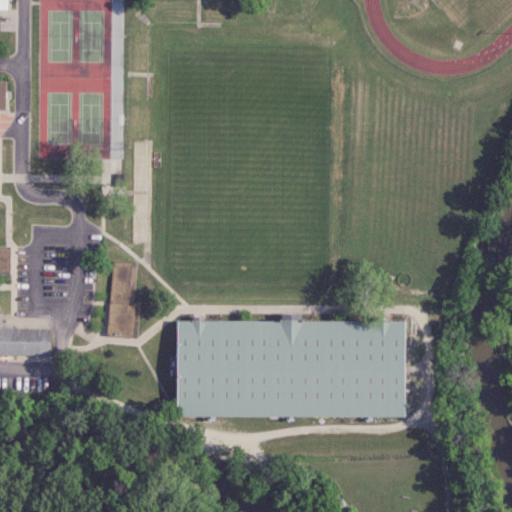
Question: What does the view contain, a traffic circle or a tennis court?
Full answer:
This aerial view contains a tennis court.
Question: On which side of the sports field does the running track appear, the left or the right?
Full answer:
Relative to the sports field, the running track is on the right.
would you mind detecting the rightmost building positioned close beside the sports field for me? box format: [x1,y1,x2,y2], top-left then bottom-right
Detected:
[178,315,406,422]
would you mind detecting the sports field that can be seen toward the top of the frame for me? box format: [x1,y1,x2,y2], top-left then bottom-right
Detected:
[168,40,330,300]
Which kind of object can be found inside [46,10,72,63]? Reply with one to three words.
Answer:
tennis court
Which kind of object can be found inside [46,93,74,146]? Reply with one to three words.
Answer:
tennis court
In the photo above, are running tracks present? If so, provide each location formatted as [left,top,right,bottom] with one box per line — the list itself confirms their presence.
[364,0,512,76]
